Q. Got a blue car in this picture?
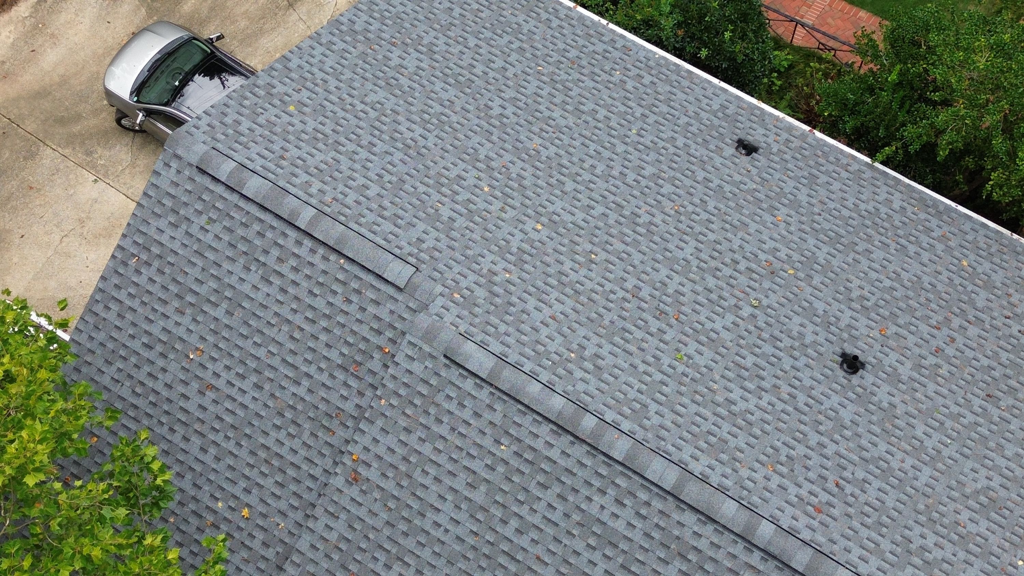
No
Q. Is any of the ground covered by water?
No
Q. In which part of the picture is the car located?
top left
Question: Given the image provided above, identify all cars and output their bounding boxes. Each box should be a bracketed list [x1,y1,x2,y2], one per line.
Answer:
[100,26,260,144]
